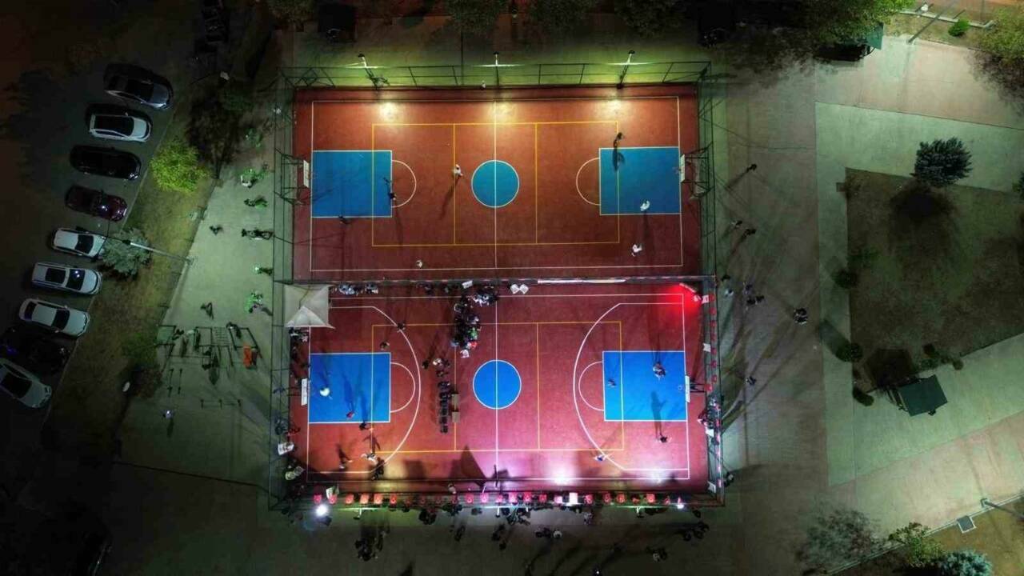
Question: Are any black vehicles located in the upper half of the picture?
Yes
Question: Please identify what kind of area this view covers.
sports ground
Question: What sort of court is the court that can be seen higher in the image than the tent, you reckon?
basketball court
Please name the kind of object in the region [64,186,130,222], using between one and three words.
car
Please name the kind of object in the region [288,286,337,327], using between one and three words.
tent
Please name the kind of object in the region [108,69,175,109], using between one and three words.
car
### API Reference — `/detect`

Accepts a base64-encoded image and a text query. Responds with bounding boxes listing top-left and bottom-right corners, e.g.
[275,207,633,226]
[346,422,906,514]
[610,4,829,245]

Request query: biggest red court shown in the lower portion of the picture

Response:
[290,282,707,495]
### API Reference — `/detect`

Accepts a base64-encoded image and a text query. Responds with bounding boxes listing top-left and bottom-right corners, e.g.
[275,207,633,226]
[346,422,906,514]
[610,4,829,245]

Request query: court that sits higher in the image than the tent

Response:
[293,83,701,282]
